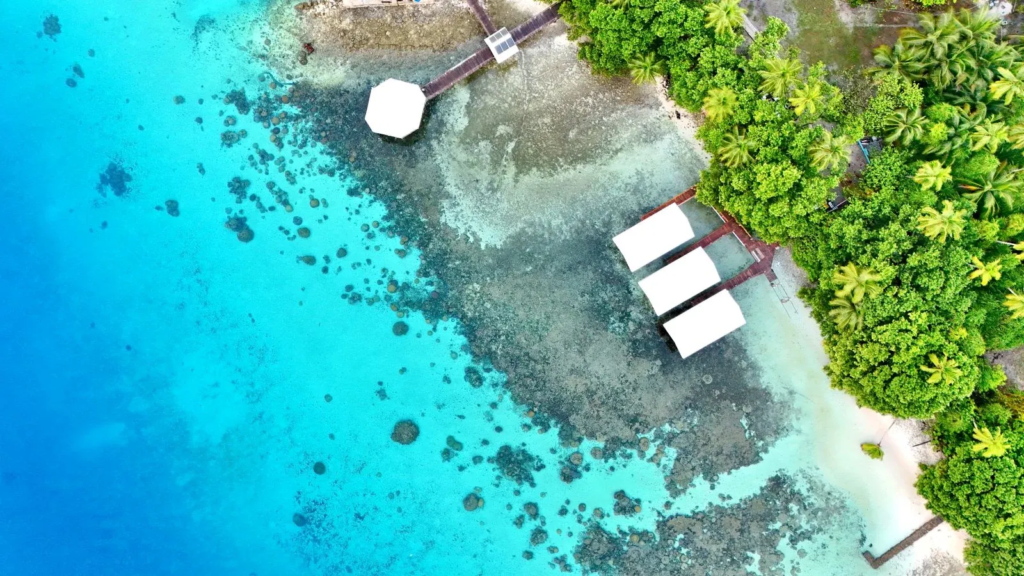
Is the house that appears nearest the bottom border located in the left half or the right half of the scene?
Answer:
right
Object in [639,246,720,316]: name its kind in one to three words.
house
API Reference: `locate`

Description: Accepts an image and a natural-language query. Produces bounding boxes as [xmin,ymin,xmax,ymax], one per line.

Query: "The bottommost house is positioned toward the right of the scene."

[664,289,745,358]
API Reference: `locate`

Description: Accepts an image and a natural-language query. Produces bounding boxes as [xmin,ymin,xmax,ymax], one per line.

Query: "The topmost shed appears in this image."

[484,27,519,71]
